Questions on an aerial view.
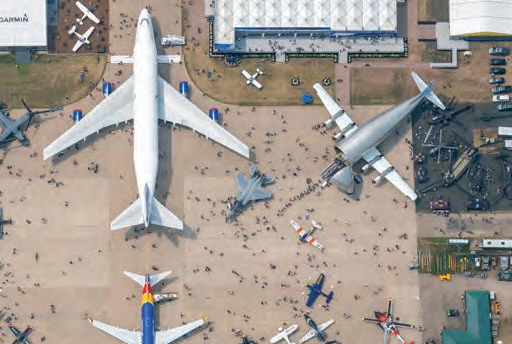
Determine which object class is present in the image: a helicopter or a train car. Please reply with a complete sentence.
Of the two, only a helicopter appears.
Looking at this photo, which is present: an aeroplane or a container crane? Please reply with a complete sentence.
This aerial view contains an aeroplane.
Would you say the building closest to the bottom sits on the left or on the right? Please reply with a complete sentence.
The building closest to the bottom sits on the right side.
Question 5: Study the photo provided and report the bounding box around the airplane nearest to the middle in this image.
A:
[228,163,274,219]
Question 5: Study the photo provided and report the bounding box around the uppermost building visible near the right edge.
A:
[442,0,512,40]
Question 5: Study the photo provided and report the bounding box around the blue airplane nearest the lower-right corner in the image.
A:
[306,274,334,307]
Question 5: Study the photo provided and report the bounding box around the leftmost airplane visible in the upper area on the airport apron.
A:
[0,99,56,148]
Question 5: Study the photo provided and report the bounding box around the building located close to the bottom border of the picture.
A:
[442,291,493,344]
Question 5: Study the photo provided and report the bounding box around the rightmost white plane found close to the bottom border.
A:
[299,313,338,344]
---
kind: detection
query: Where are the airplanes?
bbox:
[269,322,299,344]
[317,74,440,198]
[75,0,101,26]
[299,313,338,344]
[240,337,256,344]
[90,272,205,344]
[68,24,94,52]
[228,163,274,219]
[10,325,32,344]
[292,217,323,252]
[241,67,263,90]
[0,99,56,148]
[306,274,334,307]
[0,206,13,239]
